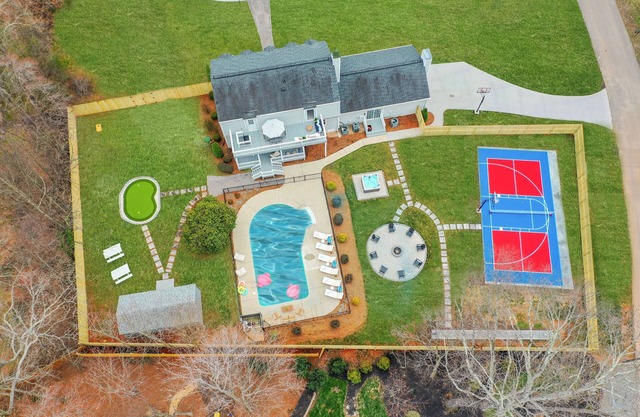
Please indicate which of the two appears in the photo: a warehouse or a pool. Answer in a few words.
pool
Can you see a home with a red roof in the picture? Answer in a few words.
No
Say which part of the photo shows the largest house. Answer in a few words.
top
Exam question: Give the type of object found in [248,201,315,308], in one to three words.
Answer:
swimming pool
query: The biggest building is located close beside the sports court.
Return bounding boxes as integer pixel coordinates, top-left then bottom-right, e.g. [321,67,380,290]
[209,40,434,143]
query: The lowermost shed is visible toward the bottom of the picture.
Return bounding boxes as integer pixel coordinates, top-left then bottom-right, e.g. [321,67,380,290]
[115,284,202,334]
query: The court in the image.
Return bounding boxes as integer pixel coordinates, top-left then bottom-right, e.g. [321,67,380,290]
[477,148,574,290]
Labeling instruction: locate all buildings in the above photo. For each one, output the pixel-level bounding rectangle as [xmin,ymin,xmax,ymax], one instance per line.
[115,284,202,334]
[209,40,434,143]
